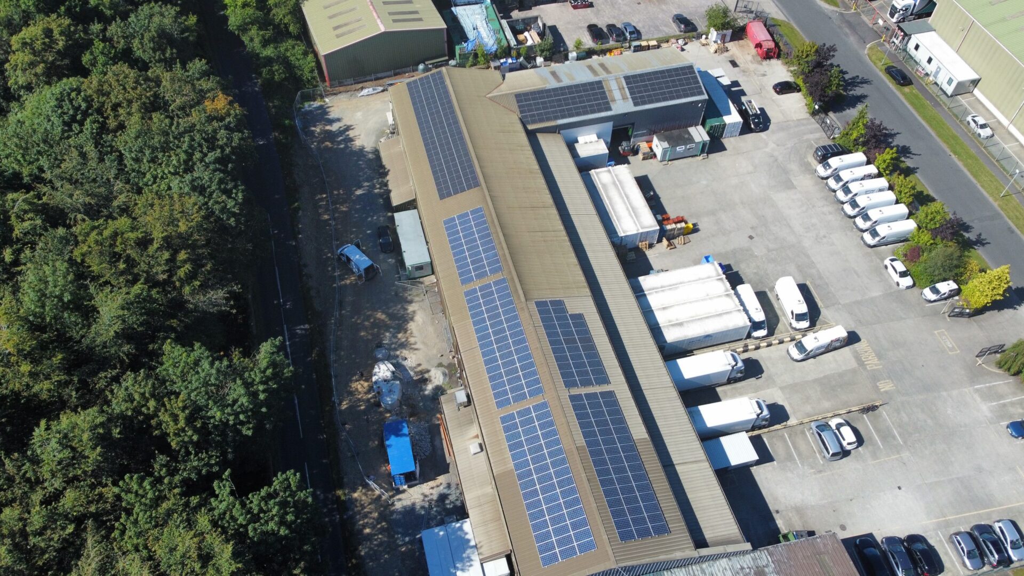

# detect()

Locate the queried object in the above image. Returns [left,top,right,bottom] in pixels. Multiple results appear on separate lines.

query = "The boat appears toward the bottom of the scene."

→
[372,357,407,410]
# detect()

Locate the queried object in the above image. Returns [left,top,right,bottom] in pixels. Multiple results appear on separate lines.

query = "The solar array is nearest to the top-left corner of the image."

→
[405,66,481,196]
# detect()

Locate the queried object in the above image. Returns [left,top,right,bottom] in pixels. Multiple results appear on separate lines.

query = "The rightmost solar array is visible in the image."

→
[629,65,706,108]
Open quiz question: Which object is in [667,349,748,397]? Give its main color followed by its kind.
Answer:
white truck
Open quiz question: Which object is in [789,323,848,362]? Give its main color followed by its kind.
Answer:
white van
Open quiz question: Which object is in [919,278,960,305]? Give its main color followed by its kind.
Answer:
white vehicle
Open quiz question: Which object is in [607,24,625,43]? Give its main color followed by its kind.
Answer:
black car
